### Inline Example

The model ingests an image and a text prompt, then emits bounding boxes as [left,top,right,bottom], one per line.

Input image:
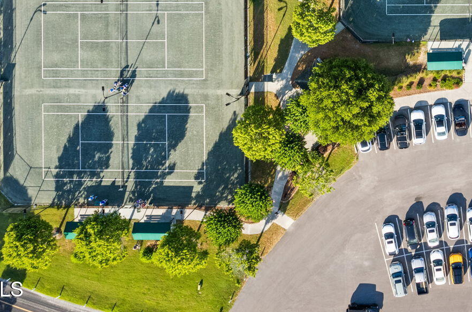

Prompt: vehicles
[444,204,461,240]
[347,305,380,312]
[402,218,422,251]
[357,126,371,154]
[431,104,448,141]
[381,223,398,256]
[423,212,440,248]
[372,118,391,152]
[390,262,408,299]
[430,249,447,286]
[393,114,411,152]
[452,105,468,137]
[448,252,466,287]
[411,256,430,298]
[467,207,472,244]
[410,110,426,145]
